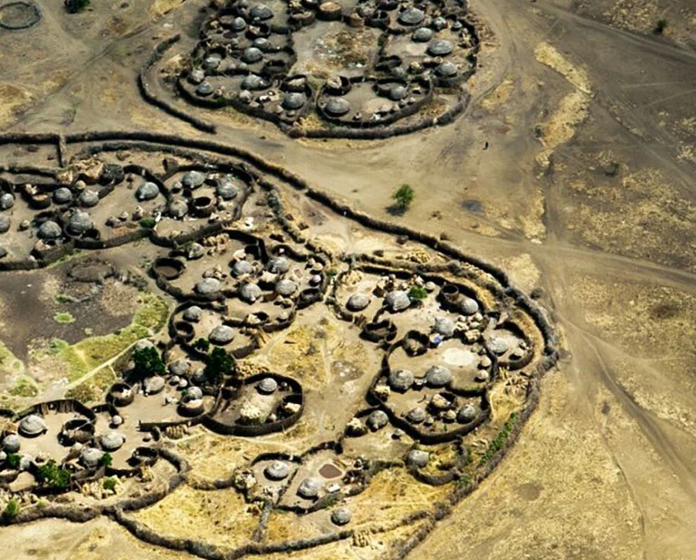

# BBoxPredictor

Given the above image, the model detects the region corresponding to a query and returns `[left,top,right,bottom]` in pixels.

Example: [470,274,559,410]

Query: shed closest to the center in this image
[346,296,371,315]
